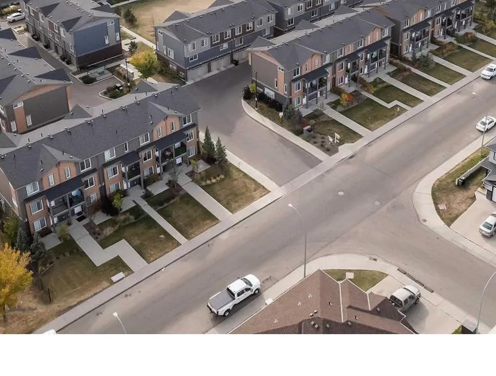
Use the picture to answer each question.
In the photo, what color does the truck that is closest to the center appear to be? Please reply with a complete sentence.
In this view, the truck that is closest to the center is white.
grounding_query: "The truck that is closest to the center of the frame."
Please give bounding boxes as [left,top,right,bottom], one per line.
[207,271,264,316]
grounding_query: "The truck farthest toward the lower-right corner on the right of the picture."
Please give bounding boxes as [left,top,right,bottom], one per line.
[385,283,421,308]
